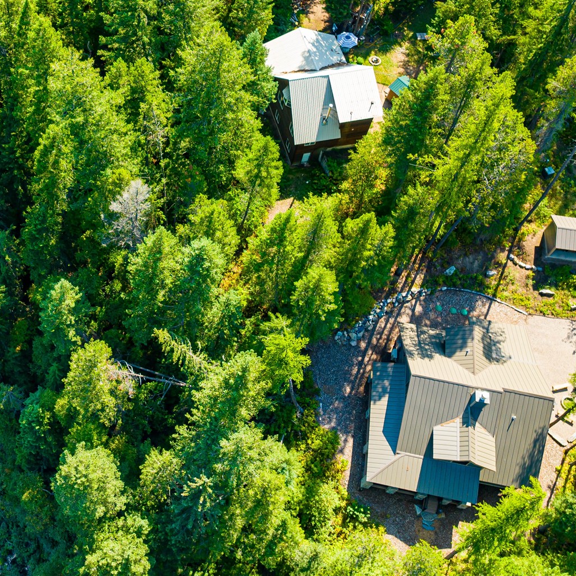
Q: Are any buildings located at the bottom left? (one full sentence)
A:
No, there is no building at the bottom left.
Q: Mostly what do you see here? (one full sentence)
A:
The bulk of the photo consists of trees.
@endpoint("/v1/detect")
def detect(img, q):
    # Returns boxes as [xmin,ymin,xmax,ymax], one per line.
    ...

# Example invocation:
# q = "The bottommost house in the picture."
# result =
[362,316,558,510]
